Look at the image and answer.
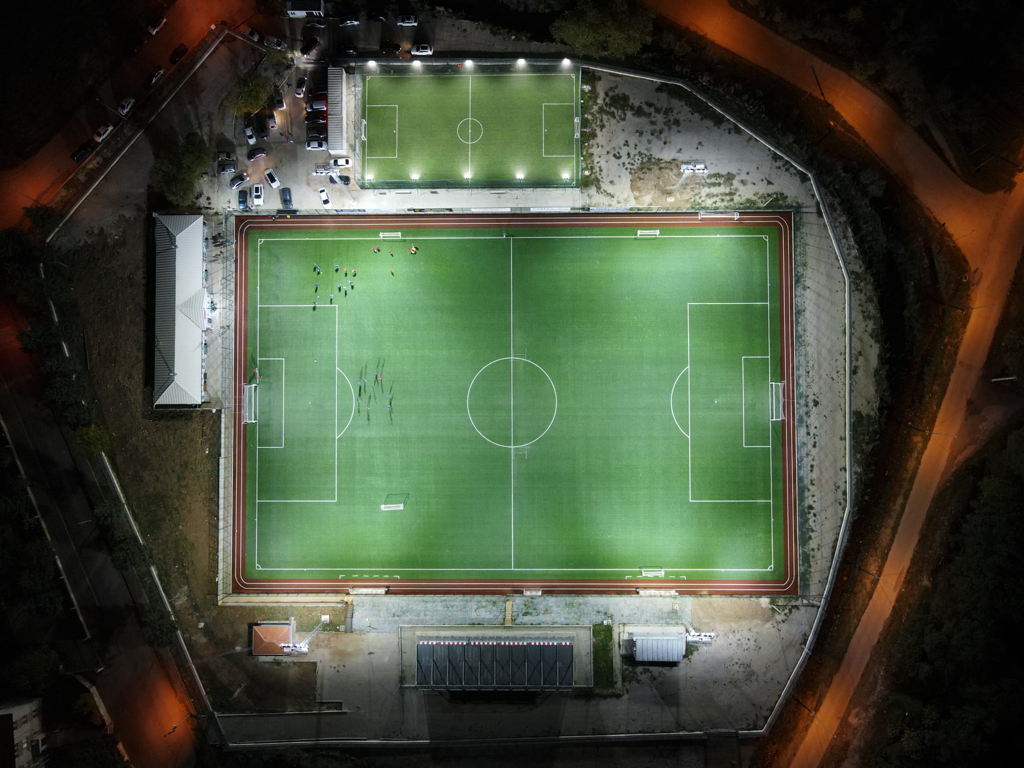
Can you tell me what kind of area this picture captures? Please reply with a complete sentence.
This image shows a sports ground.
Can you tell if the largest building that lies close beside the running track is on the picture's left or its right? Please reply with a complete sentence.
The largest building that lies close beside the running track appears in the left half of the scene.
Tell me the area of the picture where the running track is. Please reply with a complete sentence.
Look in the center portion of the view to spot the running track.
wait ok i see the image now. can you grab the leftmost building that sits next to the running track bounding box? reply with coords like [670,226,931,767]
[149,214,212,405]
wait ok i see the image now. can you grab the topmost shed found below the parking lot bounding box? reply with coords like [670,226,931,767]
[327,68,347,155]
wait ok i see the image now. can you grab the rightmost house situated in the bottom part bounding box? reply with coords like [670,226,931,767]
[252,617,316,662]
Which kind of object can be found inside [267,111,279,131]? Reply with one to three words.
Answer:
vehicle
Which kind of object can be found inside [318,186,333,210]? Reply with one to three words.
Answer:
car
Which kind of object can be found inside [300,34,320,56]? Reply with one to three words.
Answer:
car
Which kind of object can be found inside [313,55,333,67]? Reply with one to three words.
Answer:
vehicle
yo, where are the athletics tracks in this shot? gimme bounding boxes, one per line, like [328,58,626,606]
[231,210,800,596]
